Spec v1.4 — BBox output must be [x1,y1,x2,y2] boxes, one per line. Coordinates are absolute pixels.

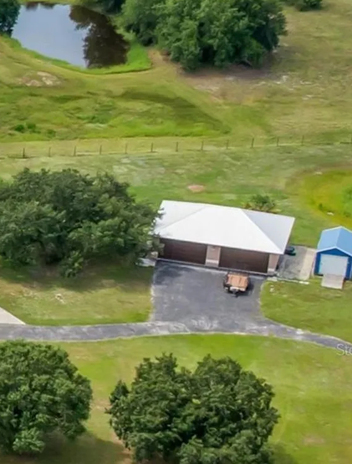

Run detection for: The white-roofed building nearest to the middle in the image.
[150,201,296,275]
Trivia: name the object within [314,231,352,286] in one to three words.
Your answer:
shed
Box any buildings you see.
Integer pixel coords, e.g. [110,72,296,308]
[150,201,296,275]
[314,231,352,286]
